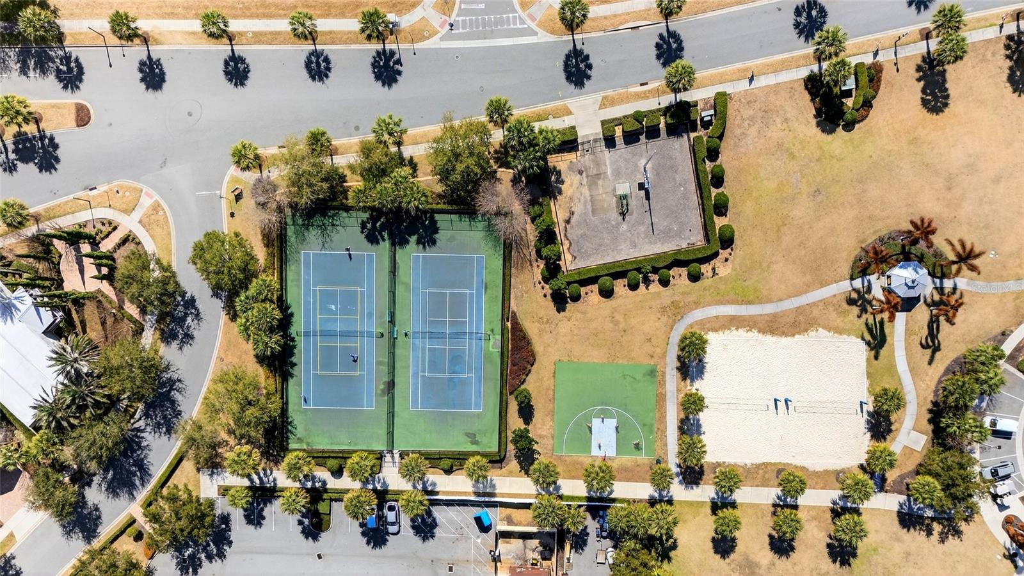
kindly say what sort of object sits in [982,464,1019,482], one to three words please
car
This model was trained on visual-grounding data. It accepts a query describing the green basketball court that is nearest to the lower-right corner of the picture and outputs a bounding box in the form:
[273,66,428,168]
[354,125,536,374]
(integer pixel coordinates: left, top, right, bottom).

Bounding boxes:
[554,362,657,458]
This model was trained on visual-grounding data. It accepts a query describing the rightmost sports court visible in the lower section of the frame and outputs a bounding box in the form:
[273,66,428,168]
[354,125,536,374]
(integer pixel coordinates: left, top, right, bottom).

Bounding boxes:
[693,326,869,471]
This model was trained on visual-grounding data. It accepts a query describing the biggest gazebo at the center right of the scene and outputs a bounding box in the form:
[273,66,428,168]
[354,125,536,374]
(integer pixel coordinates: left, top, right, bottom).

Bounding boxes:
[881,261,927,299]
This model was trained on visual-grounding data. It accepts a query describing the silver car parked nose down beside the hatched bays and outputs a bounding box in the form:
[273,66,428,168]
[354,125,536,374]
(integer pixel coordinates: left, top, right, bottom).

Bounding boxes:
[383,501,399,535]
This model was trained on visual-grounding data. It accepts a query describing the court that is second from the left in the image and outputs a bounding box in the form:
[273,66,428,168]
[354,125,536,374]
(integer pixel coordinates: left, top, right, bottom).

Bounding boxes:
[393,212,504,452]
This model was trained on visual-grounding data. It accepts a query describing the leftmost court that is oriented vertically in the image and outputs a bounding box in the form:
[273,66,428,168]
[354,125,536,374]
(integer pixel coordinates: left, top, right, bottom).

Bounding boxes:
[285,209,389,450]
